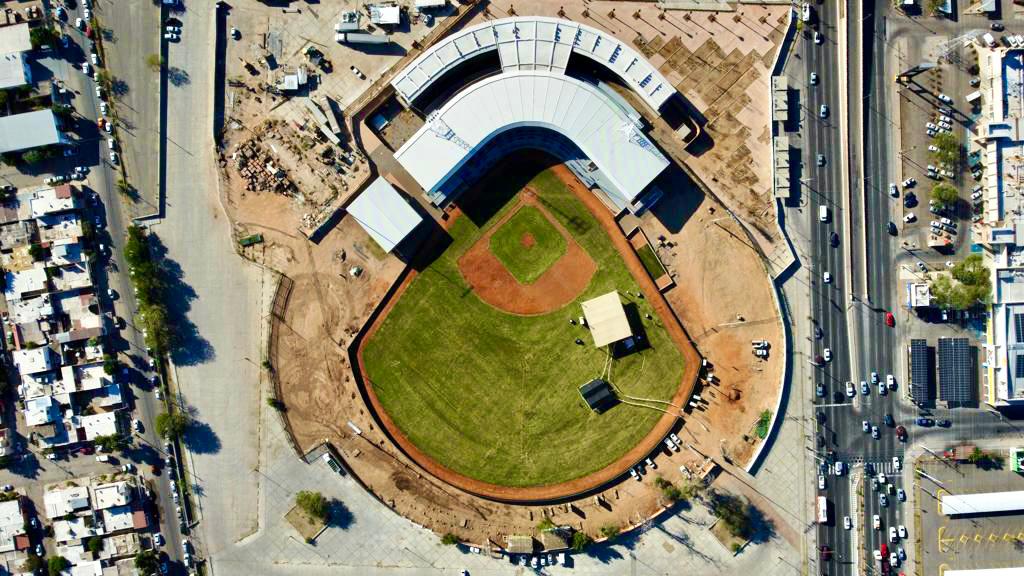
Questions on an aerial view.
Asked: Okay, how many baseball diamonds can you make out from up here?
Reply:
1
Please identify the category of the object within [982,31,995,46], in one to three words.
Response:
vehicle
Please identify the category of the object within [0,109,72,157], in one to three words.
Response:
building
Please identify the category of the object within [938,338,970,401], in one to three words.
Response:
solar panel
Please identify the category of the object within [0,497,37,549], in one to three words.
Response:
house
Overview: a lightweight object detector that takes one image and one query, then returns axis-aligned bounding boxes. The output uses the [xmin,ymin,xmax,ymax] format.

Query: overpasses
[841,0,869,300]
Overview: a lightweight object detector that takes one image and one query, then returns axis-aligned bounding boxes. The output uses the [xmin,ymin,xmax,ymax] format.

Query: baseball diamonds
[350,153,699,497]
